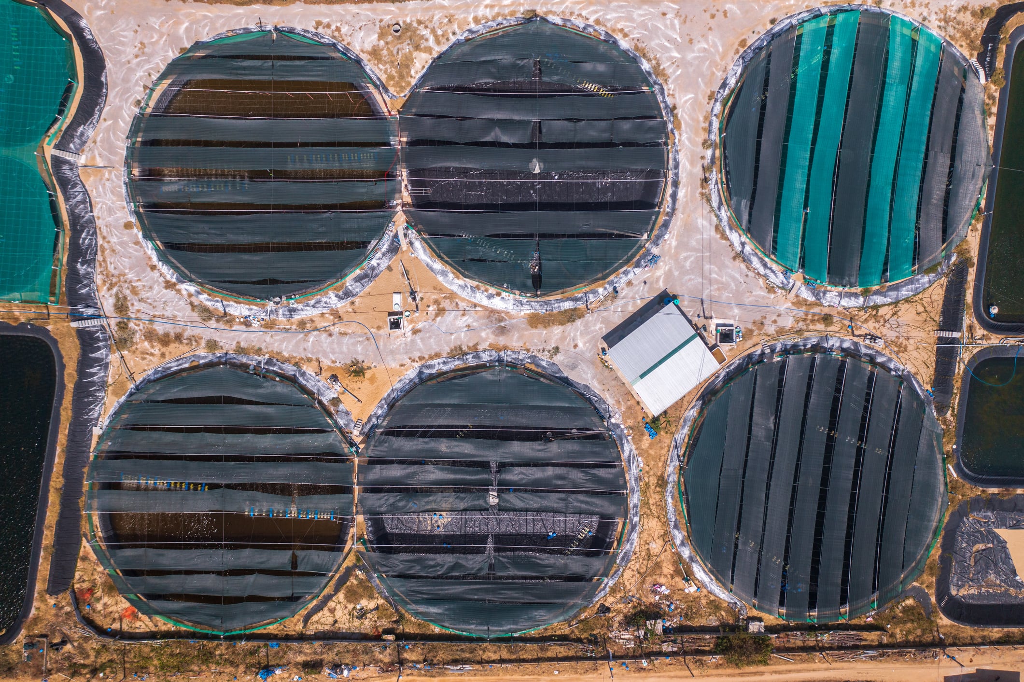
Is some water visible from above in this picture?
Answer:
Yes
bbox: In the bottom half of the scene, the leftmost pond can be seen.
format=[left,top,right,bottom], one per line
[0,321,64,642]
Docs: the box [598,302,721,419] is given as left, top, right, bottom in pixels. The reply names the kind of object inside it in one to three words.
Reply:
shed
